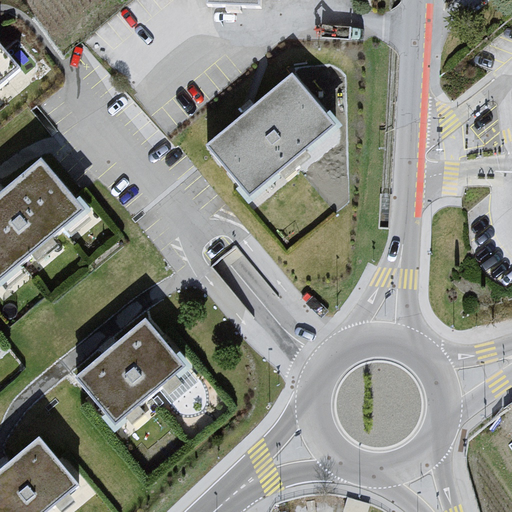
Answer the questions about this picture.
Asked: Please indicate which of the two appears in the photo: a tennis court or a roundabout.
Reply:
roundabout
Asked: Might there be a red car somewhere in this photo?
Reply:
Yes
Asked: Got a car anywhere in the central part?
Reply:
Yes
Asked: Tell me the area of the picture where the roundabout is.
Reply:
bottom right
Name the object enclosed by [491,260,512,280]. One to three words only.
car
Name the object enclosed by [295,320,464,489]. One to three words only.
roundabout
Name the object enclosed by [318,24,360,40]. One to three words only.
vehicle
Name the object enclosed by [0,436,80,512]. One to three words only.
building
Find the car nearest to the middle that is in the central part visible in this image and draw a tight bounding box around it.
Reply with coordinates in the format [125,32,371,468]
[206,238,226,257]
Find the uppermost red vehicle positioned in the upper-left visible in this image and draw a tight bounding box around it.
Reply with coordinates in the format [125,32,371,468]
[120,8,138,28]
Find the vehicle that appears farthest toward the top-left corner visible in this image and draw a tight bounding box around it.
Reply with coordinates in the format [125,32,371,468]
[70,45,83,68]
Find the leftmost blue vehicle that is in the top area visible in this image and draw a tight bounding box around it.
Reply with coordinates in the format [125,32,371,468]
[120,184,138,204]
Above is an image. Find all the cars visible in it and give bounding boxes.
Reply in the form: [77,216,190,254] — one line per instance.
[475,226,496,246]
[150,144,171,163]
[476,240,498,261]
[206,238,226,257]
[176,89,195,113]
[474,54,495,68]
[120,8,138,28]
[188,84,204,104]
[388,239,400,261]
[111,177,130,196]
[166,148,184,166]
[482,250,505,269]
[70,45,83,68]
[500,271,512,286]
[120,184,138,204]
[135,25,152,45]
[502,27,512,38]
[214,13,237,27]
[474,108,494,130]
[491,260,512,280]
[108,96,128,114]
[471,214,492,233]
[295,326,316,341]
